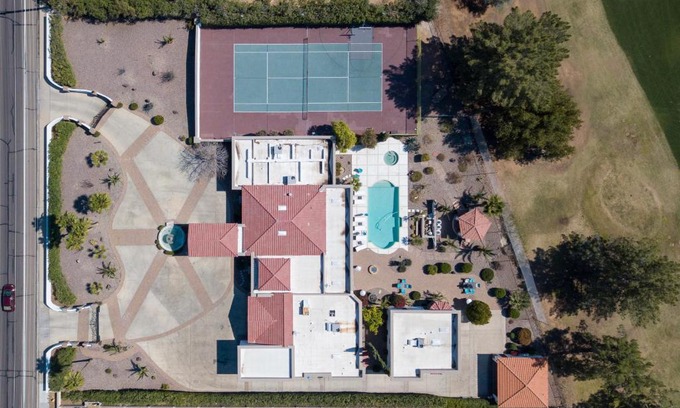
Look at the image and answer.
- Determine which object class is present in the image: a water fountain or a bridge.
water fountain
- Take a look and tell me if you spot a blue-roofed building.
No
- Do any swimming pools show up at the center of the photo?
Yes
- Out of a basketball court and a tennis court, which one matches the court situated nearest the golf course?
tennis court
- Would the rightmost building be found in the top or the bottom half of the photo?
bottom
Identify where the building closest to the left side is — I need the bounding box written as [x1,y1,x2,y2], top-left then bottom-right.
[186,137,362,378]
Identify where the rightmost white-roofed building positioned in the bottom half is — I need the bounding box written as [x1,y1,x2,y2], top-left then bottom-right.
[386,297,462,378]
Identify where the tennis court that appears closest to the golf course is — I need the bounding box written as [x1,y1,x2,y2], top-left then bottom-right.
[201,25,420,138]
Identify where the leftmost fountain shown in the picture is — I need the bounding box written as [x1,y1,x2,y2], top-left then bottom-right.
[157,222,185,253]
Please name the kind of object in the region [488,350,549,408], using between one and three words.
building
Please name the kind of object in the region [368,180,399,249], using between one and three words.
swimming pool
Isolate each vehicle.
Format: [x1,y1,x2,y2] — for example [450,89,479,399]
[1,283,18,312]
